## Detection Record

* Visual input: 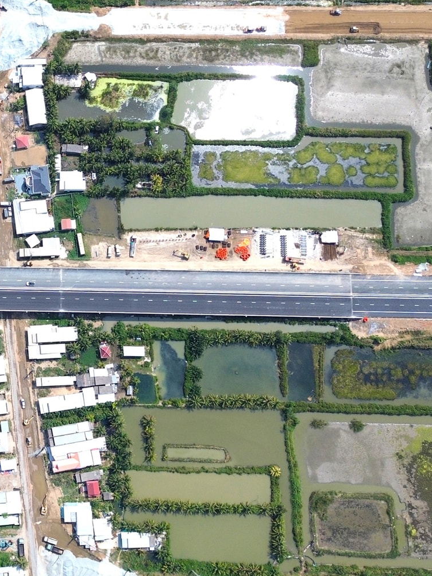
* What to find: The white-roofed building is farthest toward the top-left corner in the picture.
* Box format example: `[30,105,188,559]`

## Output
[9,58,46,90]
